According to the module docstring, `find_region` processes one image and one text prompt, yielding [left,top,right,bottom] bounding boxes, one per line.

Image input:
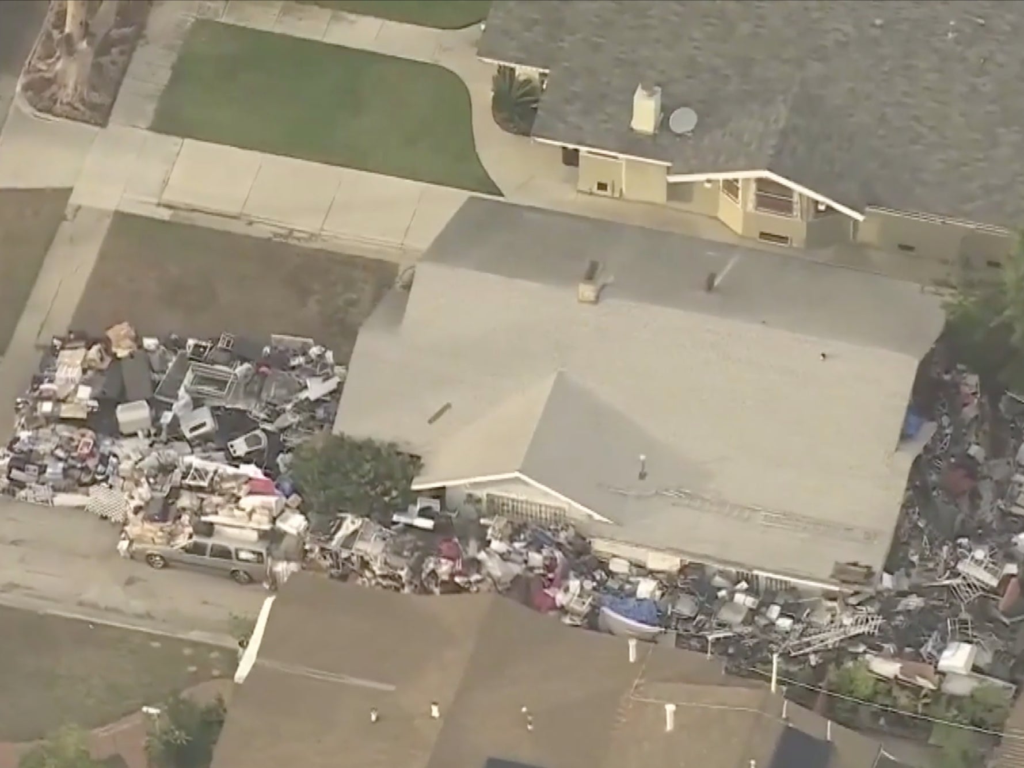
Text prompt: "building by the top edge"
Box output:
[478,0,1024,266]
